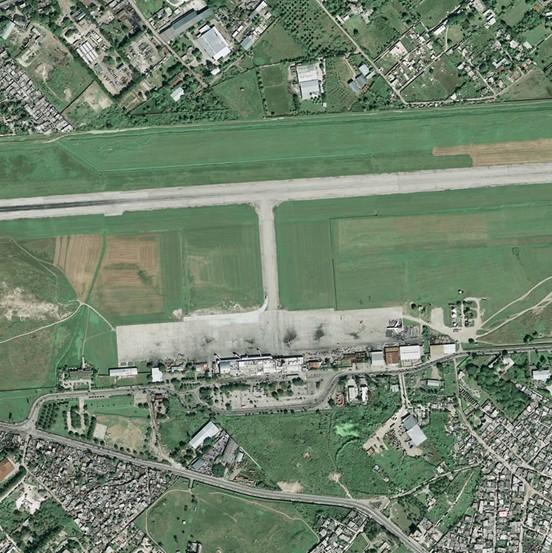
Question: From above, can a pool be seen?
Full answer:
No, no pool is visible in the view.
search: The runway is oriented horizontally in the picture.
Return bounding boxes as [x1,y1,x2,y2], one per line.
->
[0,163,552,220]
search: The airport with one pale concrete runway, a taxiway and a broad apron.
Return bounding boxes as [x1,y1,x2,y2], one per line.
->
[0,163,552,362]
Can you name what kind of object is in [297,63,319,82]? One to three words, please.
building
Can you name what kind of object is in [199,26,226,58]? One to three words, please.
building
